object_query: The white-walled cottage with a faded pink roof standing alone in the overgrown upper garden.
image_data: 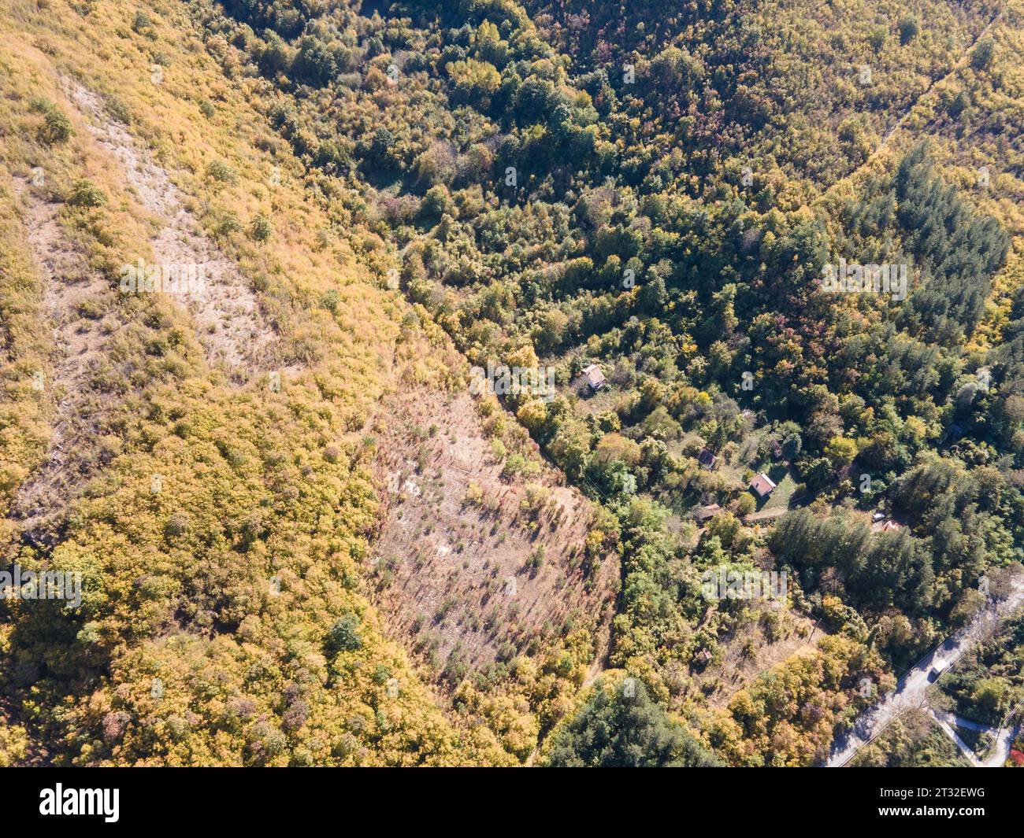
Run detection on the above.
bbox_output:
[579,370,602,392]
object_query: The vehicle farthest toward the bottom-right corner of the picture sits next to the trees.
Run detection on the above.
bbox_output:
[932,658,952,677]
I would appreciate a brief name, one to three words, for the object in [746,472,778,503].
house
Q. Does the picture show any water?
No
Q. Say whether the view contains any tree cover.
Yes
